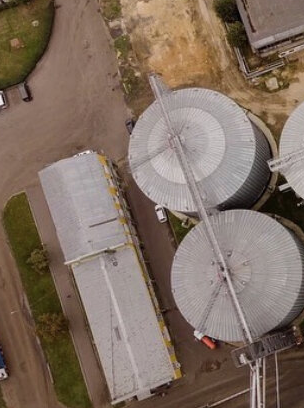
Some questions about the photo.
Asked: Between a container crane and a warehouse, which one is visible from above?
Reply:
warehouse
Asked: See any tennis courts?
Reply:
No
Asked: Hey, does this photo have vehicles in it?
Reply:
Yes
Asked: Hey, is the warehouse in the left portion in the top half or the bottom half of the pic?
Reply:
bottom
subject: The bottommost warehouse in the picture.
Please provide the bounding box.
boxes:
[39,154,182,402]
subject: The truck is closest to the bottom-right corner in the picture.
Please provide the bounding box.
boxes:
[188,328,216,352]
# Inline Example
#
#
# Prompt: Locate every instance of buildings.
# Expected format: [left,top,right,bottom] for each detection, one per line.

[237,0,304,61]
[39,154,182,402]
